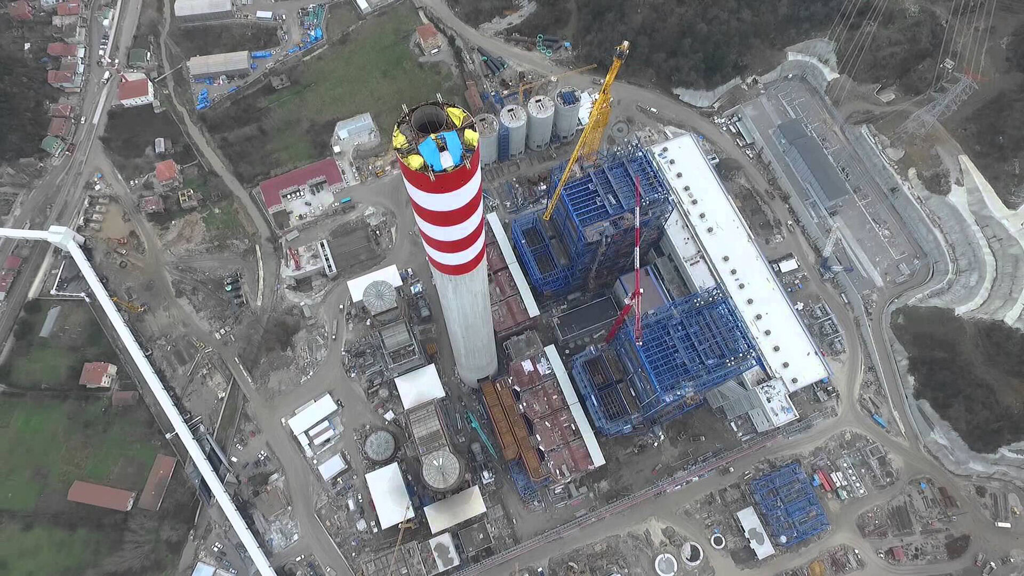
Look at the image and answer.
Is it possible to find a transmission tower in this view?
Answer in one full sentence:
Yes, the image includes a transmission tower.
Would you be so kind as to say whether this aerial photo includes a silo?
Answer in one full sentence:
Yes, there is a silo in the image.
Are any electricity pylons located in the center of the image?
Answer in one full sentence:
No, looking in the center of the image, there is no electricity pylon.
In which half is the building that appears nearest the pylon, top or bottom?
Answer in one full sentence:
The building that appears nearest the pylon sits in the top half of the picture.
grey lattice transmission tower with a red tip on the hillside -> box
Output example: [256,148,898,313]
[896,66,982,137]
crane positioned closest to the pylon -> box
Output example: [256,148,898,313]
[818,223,861,277]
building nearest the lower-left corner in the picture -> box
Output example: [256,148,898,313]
[67,481,140,511]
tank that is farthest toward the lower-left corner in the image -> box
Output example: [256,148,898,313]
[363,429,399,464]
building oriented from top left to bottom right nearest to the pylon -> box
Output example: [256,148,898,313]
[765,118,854,217]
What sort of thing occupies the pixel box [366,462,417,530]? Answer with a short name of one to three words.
building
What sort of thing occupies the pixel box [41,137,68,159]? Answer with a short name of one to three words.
house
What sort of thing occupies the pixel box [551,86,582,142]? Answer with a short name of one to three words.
silo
